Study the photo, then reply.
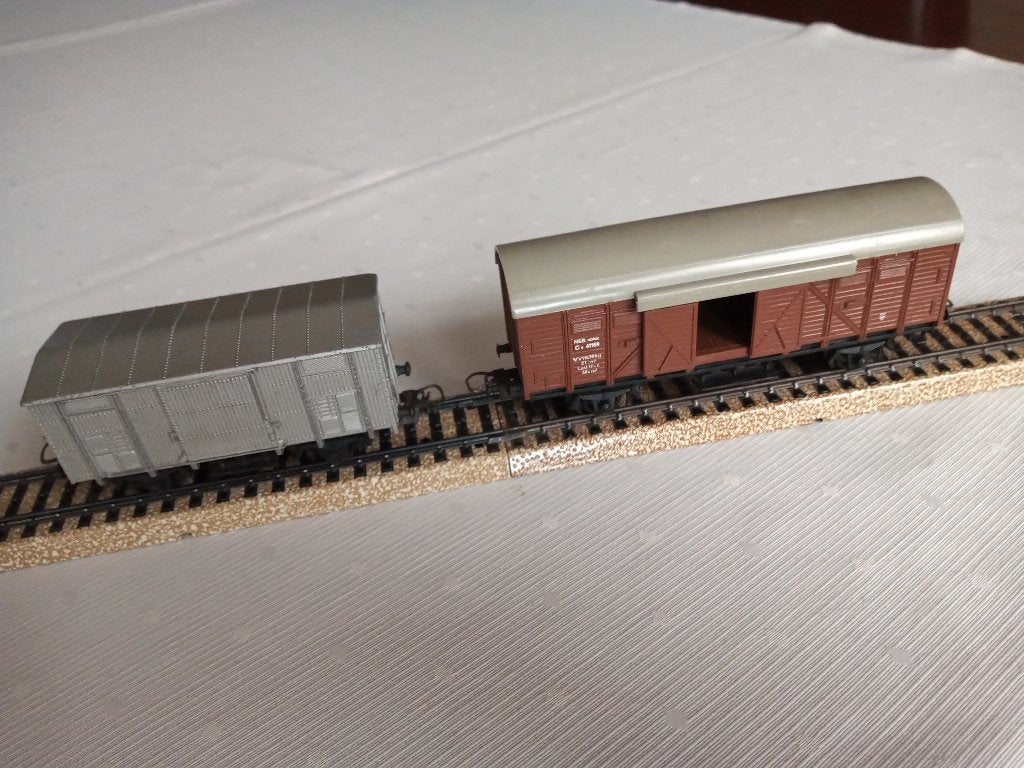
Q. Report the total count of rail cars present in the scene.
two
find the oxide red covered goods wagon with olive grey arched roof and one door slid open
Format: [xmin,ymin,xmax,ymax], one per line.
[466,176,969,416]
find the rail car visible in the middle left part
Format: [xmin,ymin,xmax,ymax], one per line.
[16,272,444,495]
